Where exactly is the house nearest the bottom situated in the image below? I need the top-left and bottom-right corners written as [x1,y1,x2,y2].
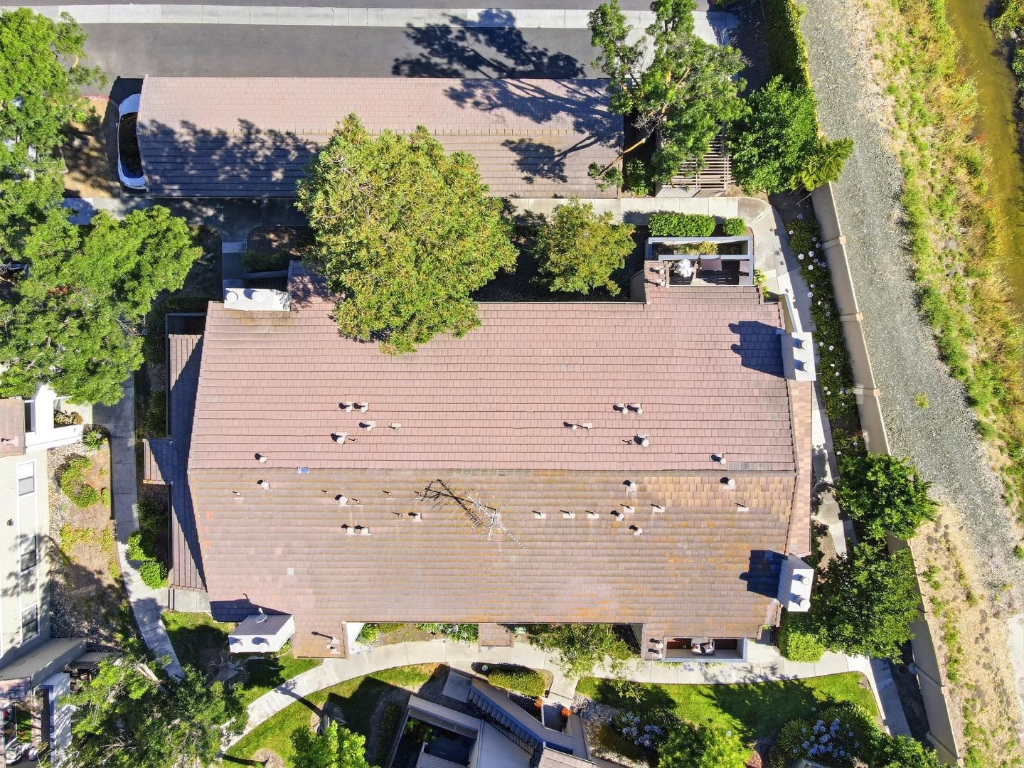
[389,670,599,768]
